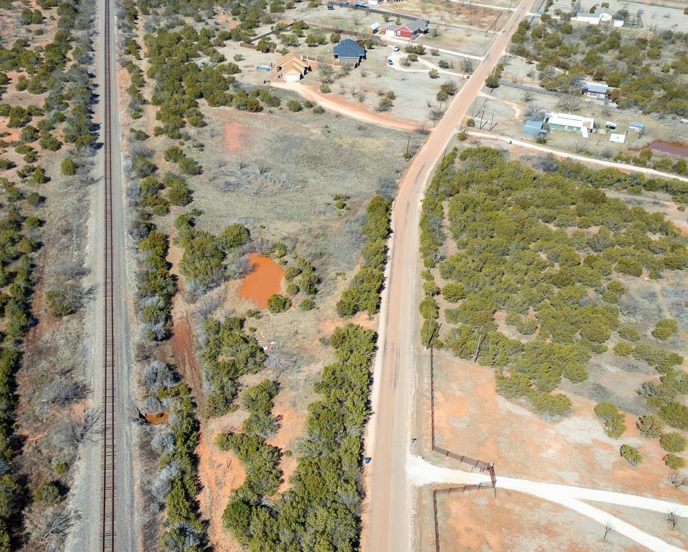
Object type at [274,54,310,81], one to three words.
house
